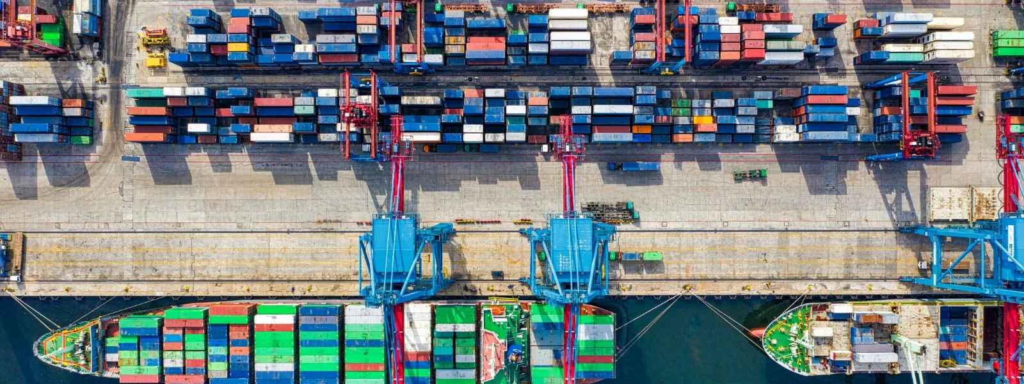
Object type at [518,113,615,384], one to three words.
container crane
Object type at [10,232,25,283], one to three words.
vehicle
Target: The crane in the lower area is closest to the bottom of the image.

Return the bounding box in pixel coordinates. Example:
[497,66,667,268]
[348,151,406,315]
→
[890,332,928,384]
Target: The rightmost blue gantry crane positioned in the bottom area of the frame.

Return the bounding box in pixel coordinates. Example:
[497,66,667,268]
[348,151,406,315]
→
[898,112,1024,384]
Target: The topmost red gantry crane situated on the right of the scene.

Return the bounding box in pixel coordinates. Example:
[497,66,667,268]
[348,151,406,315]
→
[637,0,693,76]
